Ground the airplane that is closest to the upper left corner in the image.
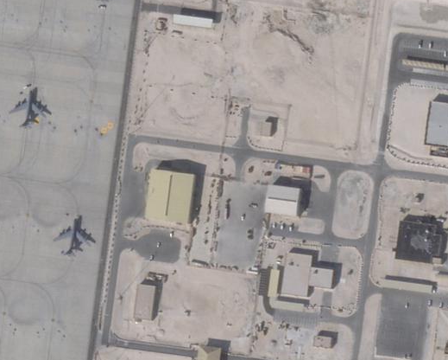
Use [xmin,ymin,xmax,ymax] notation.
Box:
[10,91,44,126]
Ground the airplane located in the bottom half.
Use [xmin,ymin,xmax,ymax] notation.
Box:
[53,219,90,255]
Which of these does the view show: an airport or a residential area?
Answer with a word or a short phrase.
airport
